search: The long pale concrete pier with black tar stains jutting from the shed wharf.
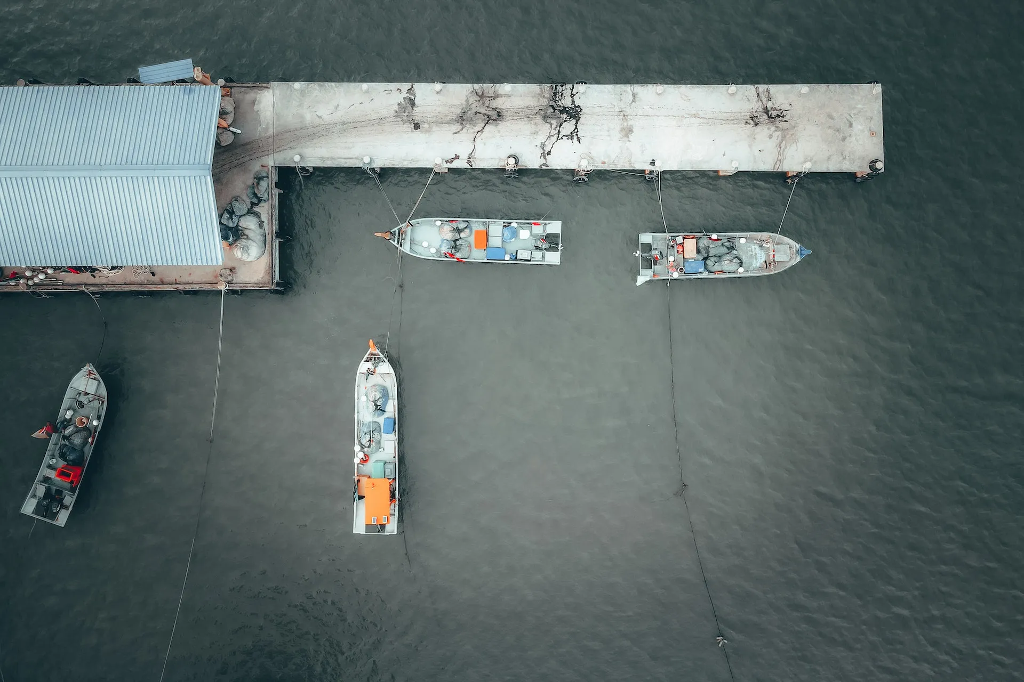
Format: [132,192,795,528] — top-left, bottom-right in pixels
[274,82,884,179]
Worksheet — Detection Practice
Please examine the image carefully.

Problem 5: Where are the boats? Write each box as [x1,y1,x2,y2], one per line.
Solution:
[374,211,563,265]
[634,231,812,286]
[20,364,113,527]
[353,339,399,535]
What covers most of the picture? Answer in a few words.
water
